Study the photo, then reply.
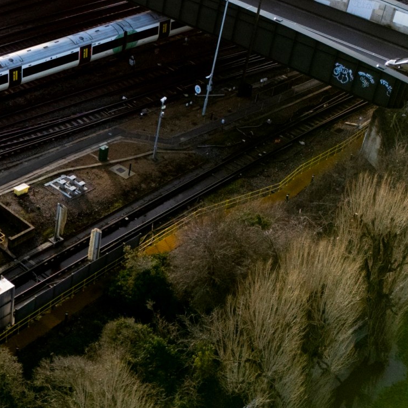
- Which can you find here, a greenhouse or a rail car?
rail car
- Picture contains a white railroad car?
No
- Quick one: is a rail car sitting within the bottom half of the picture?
No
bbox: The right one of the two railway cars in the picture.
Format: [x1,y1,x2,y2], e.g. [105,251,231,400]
[111,9,199,51]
